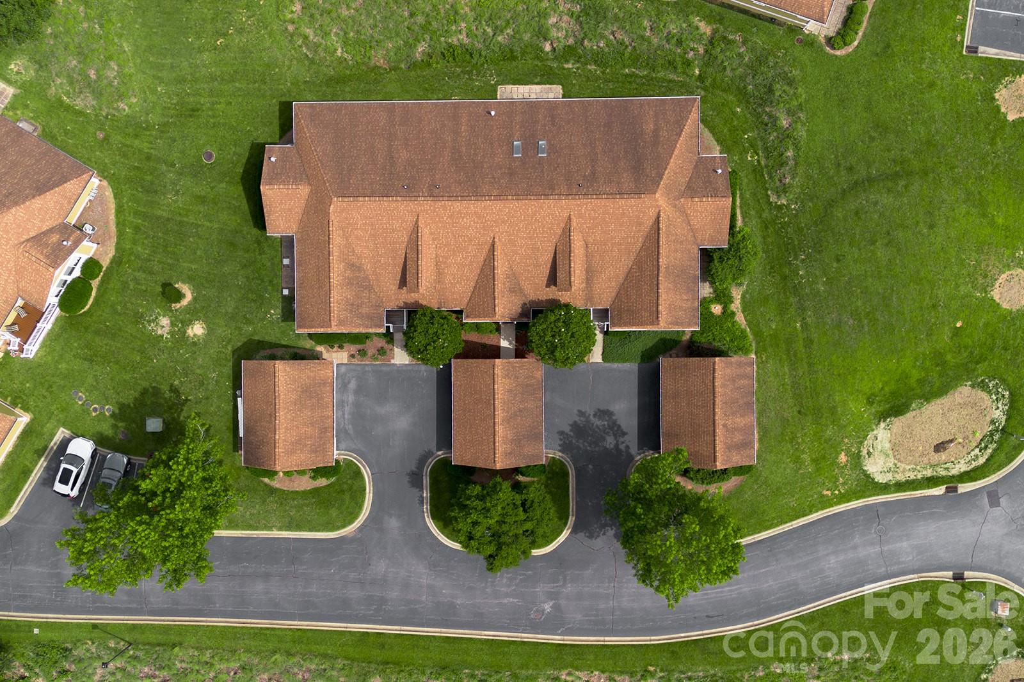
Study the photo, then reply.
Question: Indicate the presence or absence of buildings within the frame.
Yes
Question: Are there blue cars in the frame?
No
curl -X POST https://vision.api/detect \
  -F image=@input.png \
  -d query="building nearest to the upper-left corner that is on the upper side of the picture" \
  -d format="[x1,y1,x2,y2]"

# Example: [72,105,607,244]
[0,114,104,341]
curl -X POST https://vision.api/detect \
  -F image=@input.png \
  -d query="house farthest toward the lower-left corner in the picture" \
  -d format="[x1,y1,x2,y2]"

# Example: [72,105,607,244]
[0,400,28,461]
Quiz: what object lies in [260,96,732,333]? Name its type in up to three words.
house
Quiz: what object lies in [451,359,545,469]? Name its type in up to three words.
building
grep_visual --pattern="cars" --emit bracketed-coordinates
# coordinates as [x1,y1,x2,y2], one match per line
[89,447,134,509]
[54,435,98,501]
